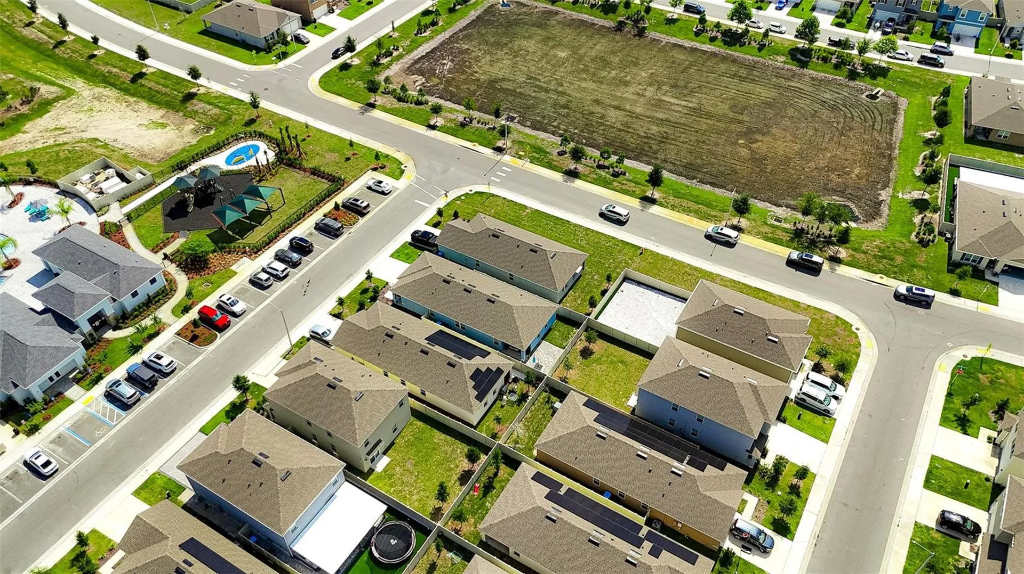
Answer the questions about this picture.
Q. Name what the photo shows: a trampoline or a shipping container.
trampoline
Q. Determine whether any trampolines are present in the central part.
No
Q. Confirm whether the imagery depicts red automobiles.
Yes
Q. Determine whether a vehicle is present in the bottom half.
Yes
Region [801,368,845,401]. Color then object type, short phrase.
white car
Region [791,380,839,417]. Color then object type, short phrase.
white car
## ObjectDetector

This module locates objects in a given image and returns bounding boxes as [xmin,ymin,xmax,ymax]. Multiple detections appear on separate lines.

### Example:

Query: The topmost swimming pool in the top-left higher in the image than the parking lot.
[225,146,265,163]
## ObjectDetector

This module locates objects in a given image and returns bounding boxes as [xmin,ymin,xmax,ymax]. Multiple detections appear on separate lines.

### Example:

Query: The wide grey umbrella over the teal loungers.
[22,194,48,214]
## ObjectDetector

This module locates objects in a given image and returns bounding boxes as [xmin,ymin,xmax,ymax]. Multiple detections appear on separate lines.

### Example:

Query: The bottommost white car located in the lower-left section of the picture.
[21,450,61,481]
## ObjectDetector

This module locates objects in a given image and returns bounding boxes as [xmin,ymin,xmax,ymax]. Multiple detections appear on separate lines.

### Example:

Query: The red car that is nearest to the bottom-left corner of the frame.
[195,306,230,333]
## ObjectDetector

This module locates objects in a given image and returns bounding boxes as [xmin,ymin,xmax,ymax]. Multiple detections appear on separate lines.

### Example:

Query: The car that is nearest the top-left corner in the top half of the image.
[289,32,312,44]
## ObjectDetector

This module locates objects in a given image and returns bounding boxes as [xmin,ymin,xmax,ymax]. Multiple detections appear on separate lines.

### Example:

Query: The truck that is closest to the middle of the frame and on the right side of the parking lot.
[407,229,441,252]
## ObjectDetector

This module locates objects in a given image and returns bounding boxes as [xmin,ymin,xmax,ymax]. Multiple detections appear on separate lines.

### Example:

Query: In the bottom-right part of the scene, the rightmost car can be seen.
[931,506,986,545]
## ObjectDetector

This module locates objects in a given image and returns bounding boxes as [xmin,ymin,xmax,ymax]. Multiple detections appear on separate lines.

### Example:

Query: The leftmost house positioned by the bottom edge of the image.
[114,498,279,574]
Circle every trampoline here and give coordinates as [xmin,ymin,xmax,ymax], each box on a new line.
[367,519,417,571]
